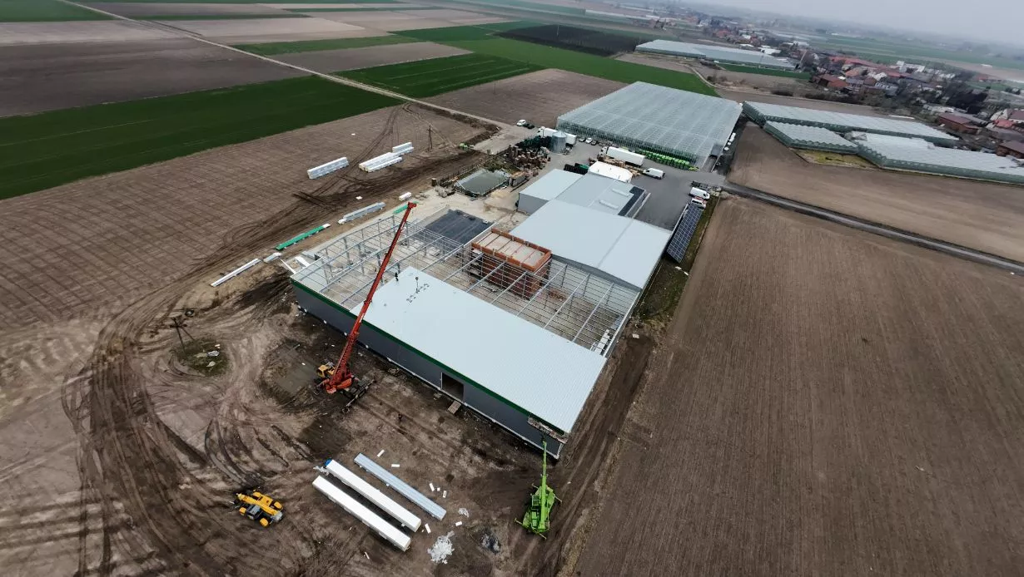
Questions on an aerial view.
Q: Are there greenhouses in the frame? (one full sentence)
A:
Yes, the frame does contain a greenhouse.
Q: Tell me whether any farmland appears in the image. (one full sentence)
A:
Yes, farmland shows up in the scene.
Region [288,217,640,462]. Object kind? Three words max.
building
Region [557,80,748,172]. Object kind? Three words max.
greenhouse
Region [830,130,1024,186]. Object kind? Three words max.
greenhouse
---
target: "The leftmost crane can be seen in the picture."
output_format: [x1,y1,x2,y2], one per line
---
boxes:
[312,199,421,415]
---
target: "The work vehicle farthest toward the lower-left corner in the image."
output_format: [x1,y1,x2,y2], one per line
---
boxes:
[231,490,291,534]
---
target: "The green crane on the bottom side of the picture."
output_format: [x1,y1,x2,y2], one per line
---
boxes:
[511,437,566,544]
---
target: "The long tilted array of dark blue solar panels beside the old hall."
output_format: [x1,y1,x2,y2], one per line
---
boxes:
[663,201,705,265]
